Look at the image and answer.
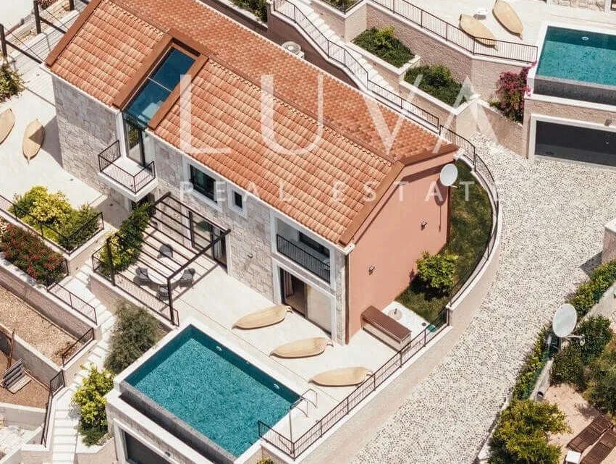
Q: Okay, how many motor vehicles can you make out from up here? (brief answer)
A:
zero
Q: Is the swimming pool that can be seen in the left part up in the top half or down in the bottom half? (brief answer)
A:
bottom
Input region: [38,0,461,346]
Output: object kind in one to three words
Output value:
house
